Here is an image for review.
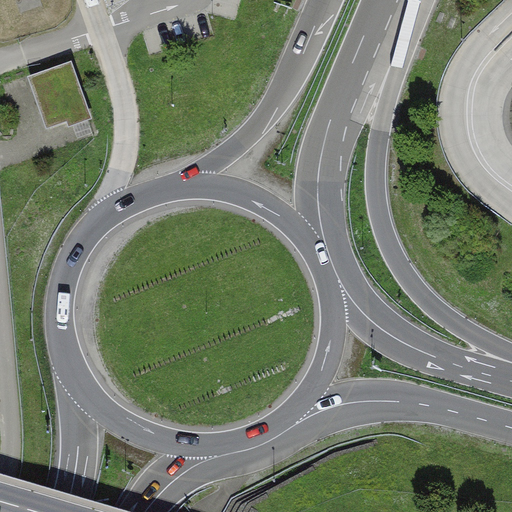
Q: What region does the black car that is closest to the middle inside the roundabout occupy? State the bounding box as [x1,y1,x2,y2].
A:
[114,196,135,210]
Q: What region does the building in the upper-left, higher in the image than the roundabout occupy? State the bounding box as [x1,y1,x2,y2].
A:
[28,61,91,128]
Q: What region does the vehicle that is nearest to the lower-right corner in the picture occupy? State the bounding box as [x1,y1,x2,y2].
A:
[318,396,342,410]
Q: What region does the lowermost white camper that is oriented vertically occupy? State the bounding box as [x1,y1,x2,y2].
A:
[56,293,70,330]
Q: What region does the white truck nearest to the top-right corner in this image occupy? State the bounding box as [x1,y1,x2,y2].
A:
[392,0,421,68]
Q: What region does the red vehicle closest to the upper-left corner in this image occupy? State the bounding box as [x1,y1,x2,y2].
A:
[180,166,200,180]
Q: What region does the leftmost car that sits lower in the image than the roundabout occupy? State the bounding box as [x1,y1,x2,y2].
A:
[142,481,161,502]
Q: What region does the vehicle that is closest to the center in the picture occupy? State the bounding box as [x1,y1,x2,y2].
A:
[316,243,328,264]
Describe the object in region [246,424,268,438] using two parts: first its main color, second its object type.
red car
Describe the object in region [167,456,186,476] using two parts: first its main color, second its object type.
red car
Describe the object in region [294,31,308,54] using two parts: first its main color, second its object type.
white car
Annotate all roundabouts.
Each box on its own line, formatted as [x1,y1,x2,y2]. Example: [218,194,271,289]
[45,171,348,460]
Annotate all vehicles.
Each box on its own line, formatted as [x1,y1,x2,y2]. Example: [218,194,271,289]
[87,0,99,8]
[318,396,342,410]
[142,481,161,502]
[156,22,170,44]
[294,31,308,54]
[180,166,200,180]
[316,243,328,264]
[197,14,210,38]
[56,293,70,330]
[392,0,421,68]
[114,196,135,210]
[172,21,184,44]
[167,456,186,476]
[246,424,268,438]
[68,244,84,266]
[176,435,199,446]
